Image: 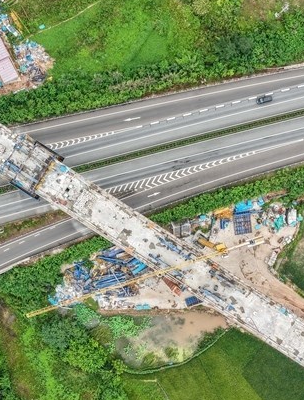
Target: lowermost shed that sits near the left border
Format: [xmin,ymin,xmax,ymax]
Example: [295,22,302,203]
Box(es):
[0,58,19,84]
